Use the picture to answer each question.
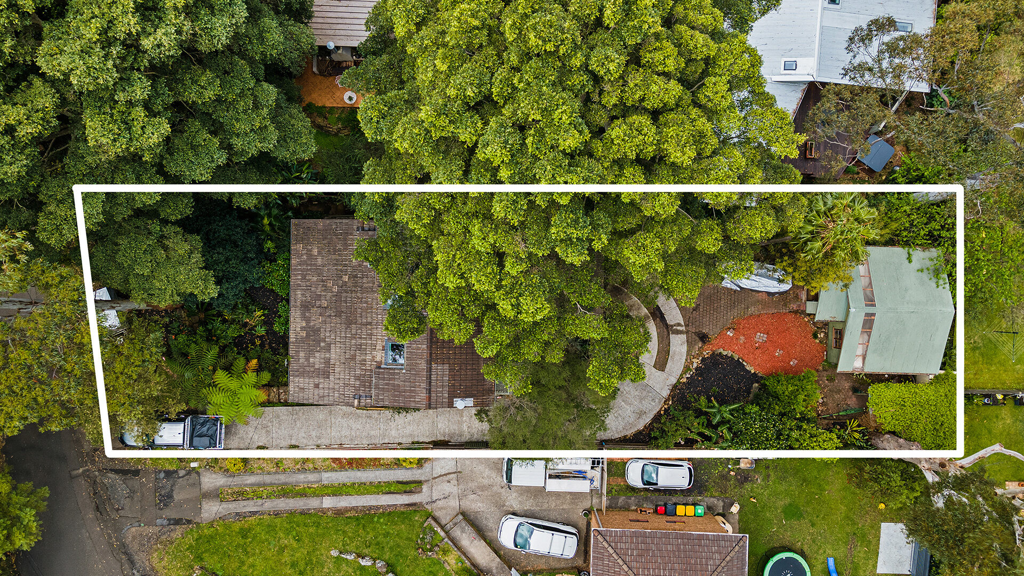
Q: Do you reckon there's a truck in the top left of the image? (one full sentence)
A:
No, the scene shows no truck in the top left of the image.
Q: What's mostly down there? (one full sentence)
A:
The largest share of the image is taken up by trees.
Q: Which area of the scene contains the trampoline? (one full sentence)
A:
The trampoline appears toward the bottom right of the photo.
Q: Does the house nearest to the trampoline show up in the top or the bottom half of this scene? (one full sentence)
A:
Seen from above, the house nearest to the trampoline lies in the bottom half of the view.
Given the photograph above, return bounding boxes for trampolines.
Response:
[758,546,811,576]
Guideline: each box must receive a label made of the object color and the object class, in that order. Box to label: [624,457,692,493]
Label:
white car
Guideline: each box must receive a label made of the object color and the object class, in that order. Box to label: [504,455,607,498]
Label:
white truck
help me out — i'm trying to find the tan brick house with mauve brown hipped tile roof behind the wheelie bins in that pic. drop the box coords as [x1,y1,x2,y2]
[589,509,750,576]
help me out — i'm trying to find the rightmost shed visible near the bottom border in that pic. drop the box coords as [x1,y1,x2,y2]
[876,522,925,576]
